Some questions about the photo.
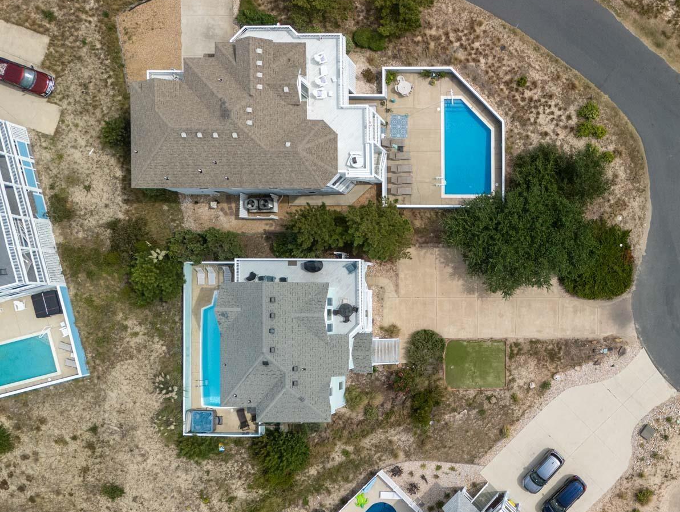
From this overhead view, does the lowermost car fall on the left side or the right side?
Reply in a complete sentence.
The lowermost car is on the right side of the image.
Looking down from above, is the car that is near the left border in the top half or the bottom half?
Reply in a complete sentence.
You can find the car that is near the left border in the top half.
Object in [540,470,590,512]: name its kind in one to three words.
car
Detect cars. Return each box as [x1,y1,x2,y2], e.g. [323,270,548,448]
[540,470,590,512]
[521,445,566,495]
[0,59,60,97]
